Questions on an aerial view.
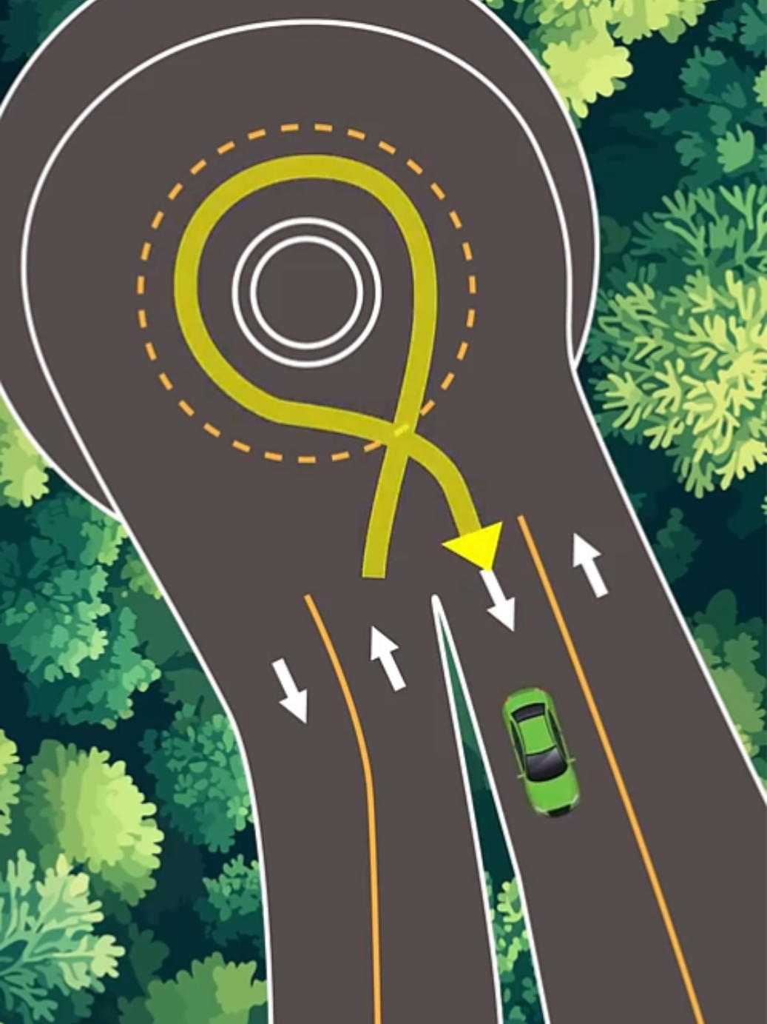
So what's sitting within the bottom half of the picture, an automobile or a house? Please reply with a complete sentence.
Looking within the bottom half of the picture, you will find an automobile.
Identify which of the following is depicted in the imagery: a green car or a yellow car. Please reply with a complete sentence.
This aerial view contains a green car.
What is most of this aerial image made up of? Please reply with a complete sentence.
The bulk of the photo consists of paved ground.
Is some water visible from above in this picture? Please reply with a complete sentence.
No, no water is visible.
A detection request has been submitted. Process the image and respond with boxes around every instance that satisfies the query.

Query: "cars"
[503,685,581,818]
